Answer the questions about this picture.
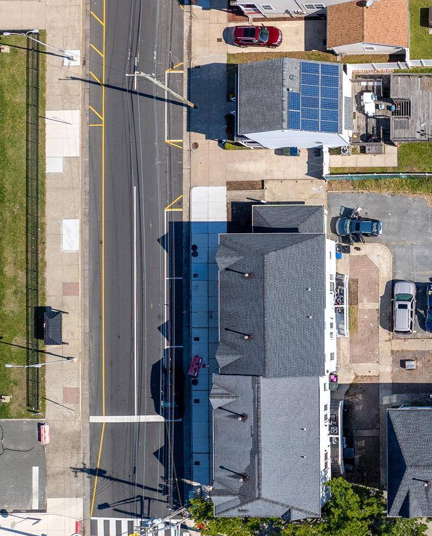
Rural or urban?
urban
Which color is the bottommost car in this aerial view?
black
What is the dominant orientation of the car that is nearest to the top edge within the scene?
from side to side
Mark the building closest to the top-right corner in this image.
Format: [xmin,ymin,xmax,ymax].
[325,0,411,60]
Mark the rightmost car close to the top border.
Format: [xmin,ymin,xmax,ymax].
[232,23,286,50]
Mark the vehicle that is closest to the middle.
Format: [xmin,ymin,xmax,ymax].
[157,356,185,408]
